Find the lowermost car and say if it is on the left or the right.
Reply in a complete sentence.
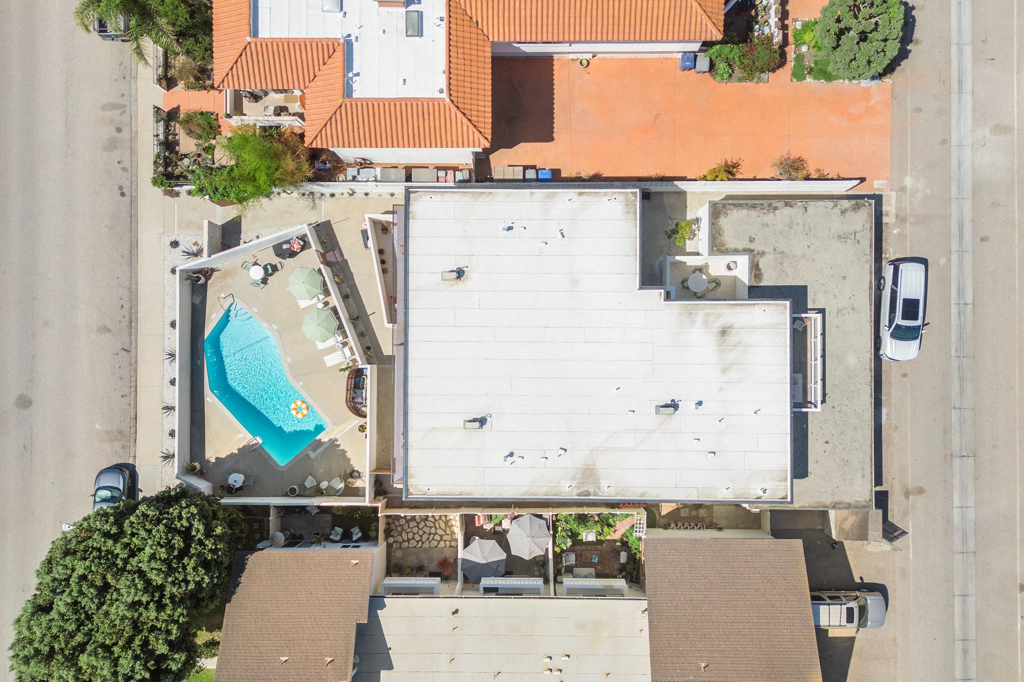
The lowermost car sits on the right side.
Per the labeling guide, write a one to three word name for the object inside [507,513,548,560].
umbrella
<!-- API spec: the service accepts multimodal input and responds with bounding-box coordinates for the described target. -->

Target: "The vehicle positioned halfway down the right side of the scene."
[876,260,932,361]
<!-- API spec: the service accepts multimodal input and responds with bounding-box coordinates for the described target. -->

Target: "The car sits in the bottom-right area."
[810,589,888,638]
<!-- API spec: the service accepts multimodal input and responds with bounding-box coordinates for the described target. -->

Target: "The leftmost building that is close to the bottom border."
[217,539,374,682]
